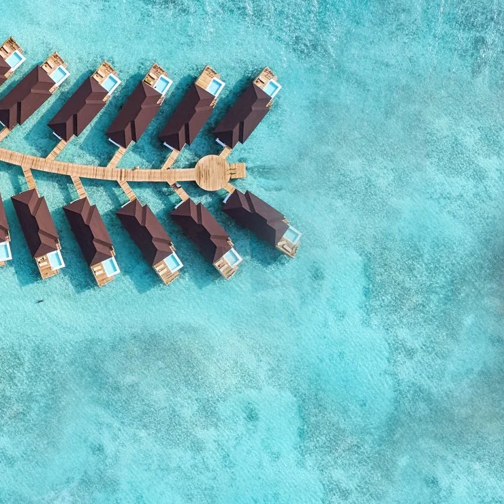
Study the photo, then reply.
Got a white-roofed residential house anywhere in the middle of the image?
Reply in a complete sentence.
No, no white-roofed residential house can be made out in the middle of the image.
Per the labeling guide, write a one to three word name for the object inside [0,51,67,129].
house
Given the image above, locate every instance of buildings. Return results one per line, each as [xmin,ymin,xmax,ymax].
[0,190,11,242]
[0,51,67,129]
[0,35,23,87]
[158,67,220,152]
[115,199,179,285]
[63,197,115,287]
[209,65,278,148]
[47,61,118,142]
[168,197,239,280]
[105,64,169,149]
[11,188,60,279]
[219,189,300,262]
